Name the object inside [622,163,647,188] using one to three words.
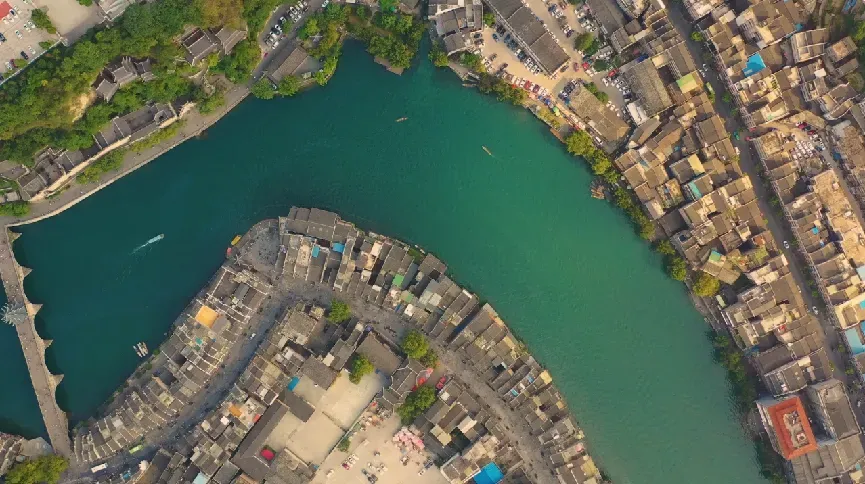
house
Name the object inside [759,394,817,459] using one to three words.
building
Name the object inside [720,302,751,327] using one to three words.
house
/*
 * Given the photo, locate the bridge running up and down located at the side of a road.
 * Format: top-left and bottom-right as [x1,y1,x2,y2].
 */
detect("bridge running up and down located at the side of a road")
[0,215,75,462]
